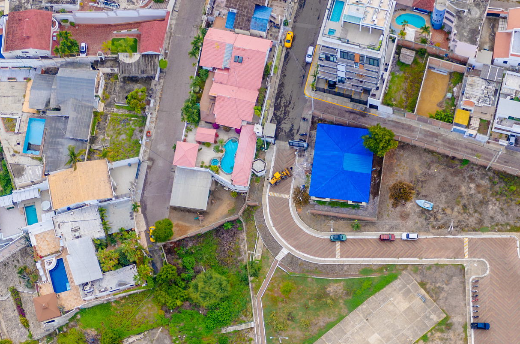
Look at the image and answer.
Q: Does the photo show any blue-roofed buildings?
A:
Yes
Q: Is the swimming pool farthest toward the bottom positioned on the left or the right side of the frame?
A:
left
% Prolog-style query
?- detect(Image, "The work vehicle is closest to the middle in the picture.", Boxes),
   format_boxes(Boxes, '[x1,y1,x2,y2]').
[266,166,292,183]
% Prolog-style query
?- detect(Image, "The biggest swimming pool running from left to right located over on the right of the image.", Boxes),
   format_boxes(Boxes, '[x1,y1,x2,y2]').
[394,12,427,29]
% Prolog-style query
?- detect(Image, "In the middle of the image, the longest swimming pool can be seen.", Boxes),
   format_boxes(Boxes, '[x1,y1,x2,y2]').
[218,136,239,175]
